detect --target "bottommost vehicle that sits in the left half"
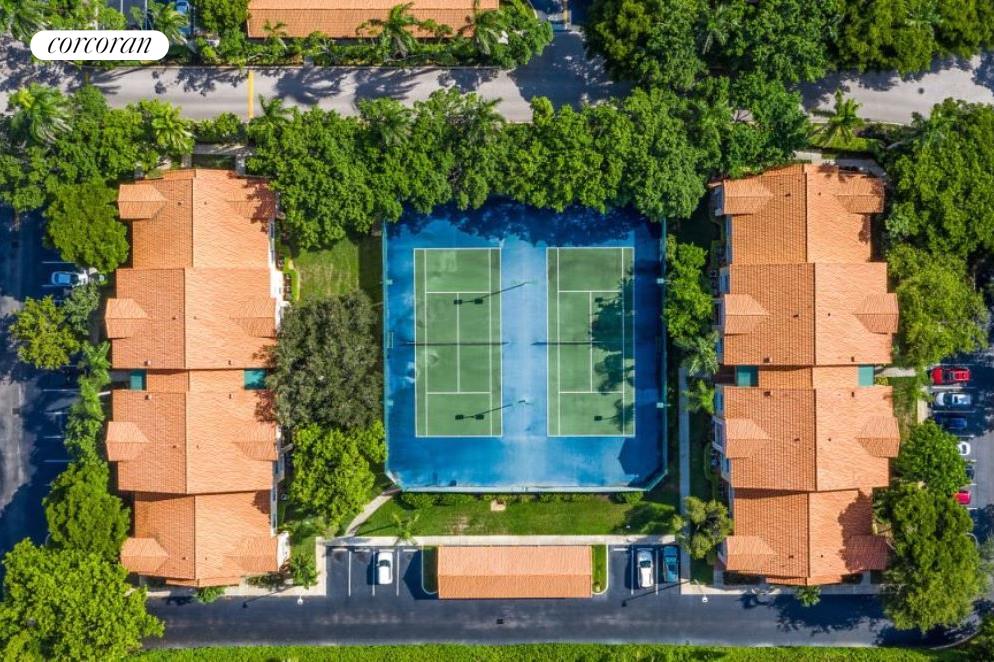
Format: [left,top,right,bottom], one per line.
[376,548,394,584]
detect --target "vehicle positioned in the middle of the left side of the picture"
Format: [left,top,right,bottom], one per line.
[52,271,91,289]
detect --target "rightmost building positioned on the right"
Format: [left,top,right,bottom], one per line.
[708,159,900,586]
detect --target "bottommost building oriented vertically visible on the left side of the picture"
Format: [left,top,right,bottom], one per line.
[105,170,294,587]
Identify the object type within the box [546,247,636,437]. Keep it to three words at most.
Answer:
tennis court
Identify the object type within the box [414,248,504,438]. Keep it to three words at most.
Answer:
tennis court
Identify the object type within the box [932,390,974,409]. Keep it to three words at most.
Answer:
car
